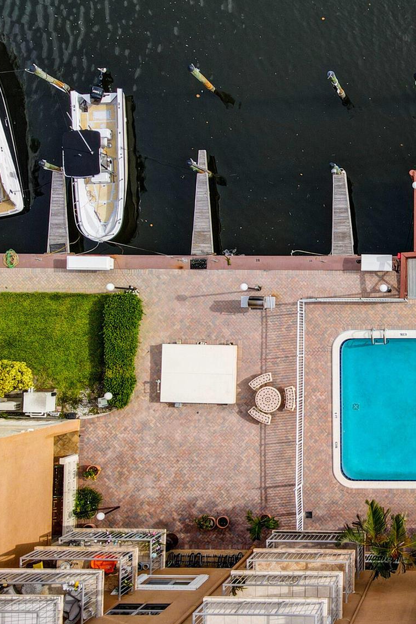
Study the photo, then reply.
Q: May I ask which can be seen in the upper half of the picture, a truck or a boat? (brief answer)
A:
boat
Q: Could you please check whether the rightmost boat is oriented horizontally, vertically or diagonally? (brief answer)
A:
vertically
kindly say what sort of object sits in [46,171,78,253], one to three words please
pier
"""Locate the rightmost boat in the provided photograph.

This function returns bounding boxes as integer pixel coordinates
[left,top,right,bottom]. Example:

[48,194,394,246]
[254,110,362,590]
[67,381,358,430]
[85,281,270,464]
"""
[62,65,131,242]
